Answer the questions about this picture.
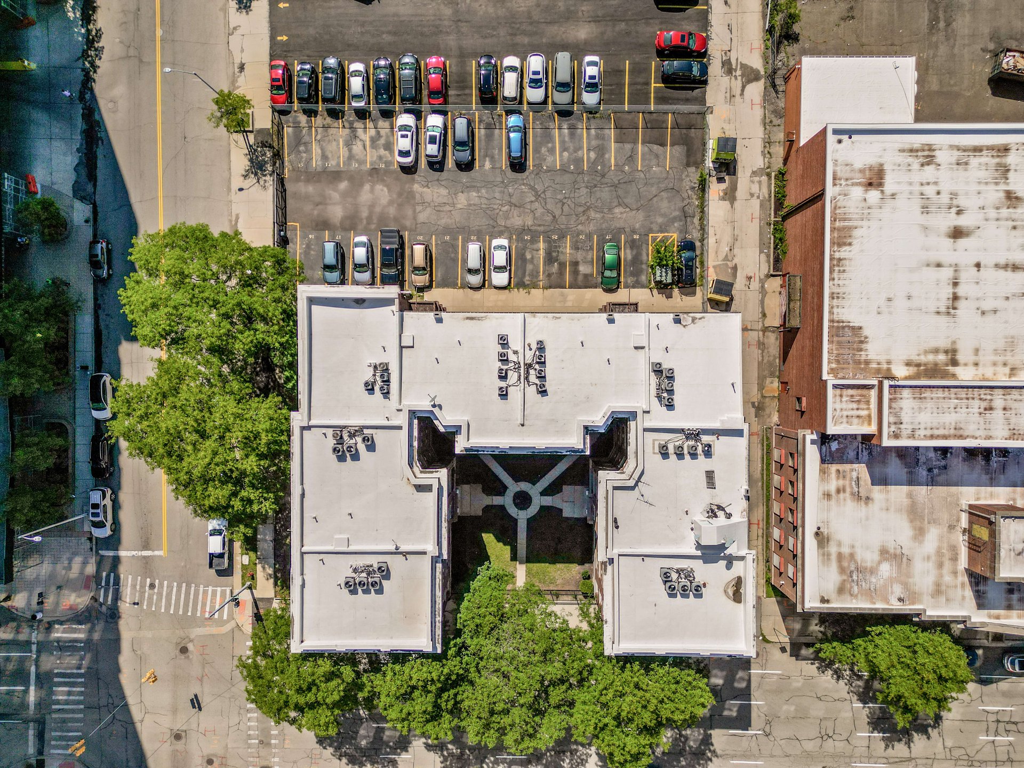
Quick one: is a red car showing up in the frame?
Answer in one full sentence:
Yes, the frame does contain a red car.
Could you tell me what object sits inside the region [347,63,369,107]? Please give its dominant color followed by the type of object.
white car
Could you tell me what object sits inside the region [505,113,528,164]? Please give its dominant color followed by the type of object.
blue car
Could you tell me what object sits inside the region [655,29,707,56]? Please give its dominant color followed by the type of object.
red car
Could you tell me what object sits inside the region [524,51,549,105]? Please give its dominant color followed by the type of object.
white car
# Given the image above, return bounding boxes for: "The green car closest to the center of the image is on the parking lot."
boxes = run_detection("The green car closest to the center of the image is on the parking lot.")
[599,243,622,290]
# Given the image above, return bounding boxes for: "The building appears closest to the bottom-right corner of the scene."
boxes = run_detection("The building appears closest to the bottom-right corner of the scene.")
[769,426,1024,632]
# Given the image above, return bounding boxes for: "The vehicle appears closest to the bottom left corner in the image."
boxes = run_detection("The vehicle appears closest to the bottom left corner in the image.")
[87,486,116,538]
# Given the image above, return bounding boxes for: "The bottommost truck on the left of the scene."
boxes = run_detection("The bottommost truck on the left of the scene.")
[204,517,230,570]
